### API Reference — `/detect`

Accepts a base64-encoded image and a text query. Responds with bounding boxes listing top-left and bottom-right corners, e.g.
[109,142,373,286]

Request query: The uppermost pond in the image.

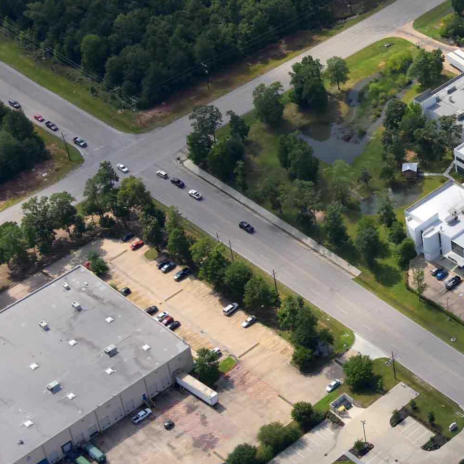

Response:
[298,73,416,162]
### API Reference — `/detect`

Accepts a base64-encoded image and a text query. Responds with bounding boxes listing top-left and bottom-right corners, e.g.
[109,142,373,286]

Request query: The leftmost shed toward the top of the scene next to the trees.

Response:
[399,161,419,184]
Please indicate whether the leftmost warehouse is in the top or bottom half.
bottom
